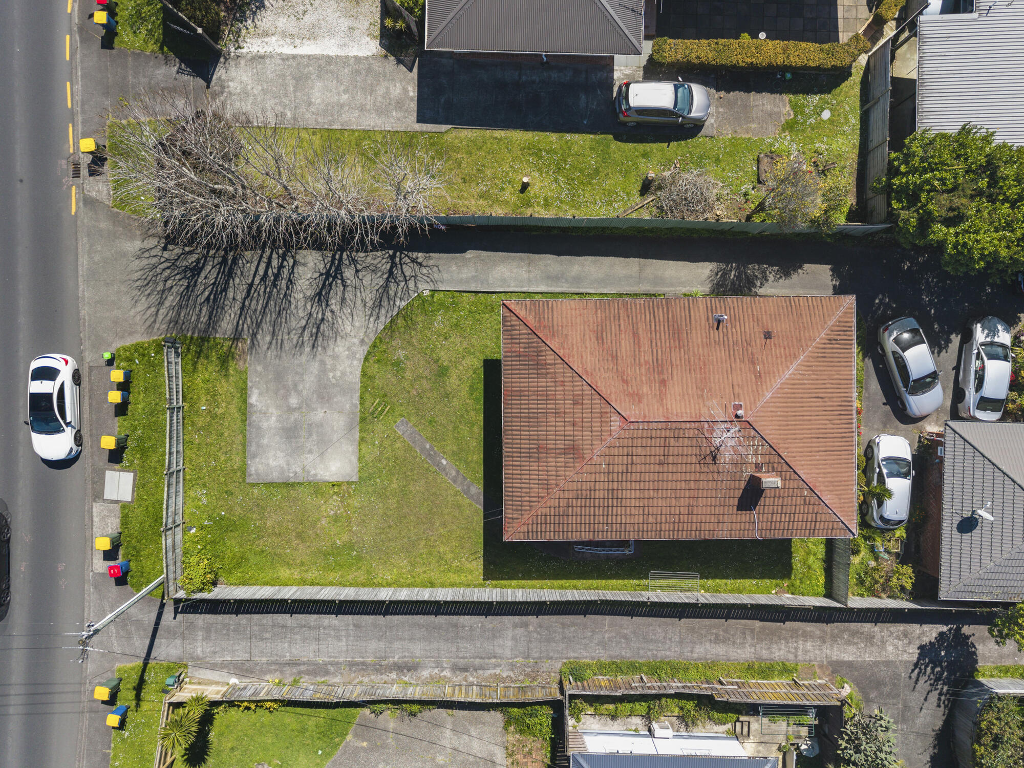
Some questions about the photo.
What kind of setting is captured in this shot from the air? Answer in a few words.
residential area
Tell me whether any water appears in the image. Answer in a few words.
No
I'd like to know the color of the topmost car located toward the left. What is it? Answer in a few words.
white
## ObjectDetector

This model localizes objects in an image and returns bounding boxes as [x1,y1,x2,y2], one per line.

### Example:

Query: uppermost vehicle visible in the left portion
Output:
[20,353,80,465]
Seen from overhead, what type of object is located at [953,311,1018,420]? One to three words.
car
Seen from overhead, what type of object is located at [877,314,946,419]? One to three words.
car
